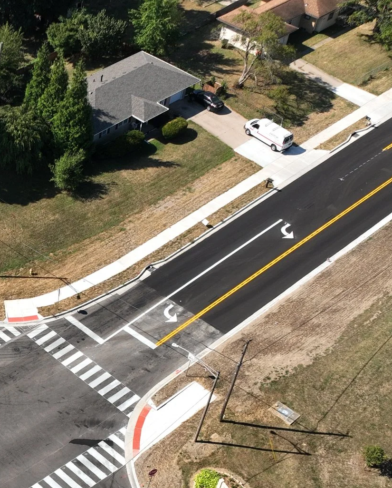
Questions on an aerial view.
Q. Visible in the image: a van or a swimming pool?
van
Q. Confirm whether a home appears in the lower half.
No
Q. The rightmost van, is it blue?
No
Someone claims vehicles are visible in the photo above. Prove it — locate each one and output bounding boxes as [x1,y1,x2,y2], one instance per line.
[244,121,293,153]
[191,93,224,110]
